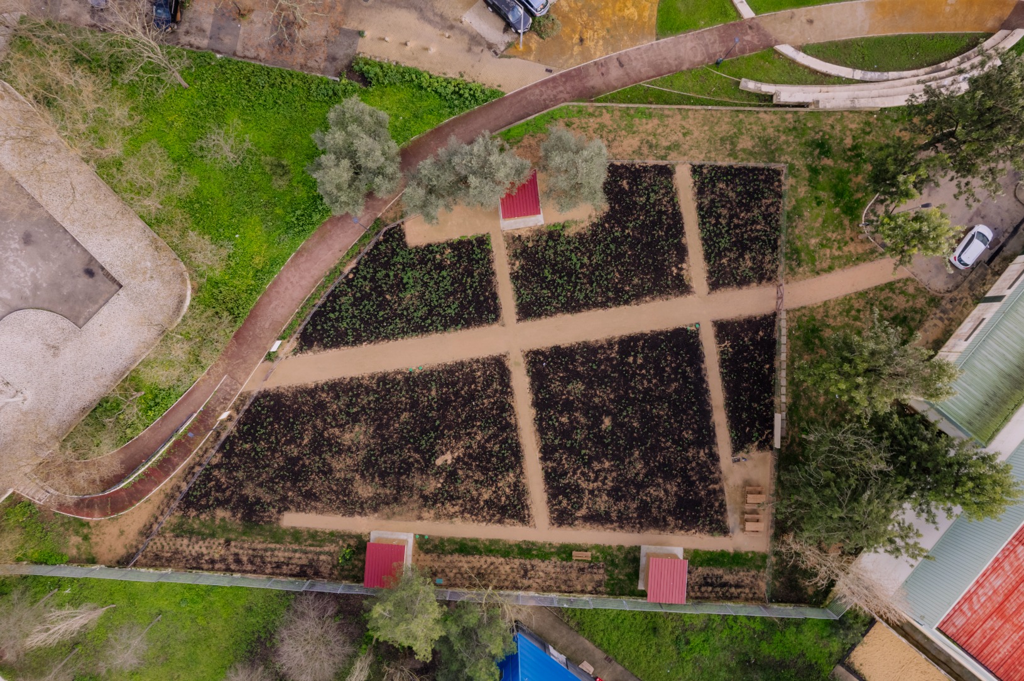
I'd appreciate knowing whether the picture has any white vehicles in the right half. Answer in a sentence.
Yes, a white vehicle can be seen in the right half.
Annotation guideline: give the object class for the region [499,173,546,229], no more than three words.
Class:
shed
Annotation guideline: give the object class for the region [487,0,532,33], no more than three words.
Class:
car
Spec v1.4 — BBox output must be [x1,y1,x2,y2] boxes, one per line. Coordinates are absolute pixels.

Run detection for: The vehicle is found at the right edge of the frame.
[957,223,996,269]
